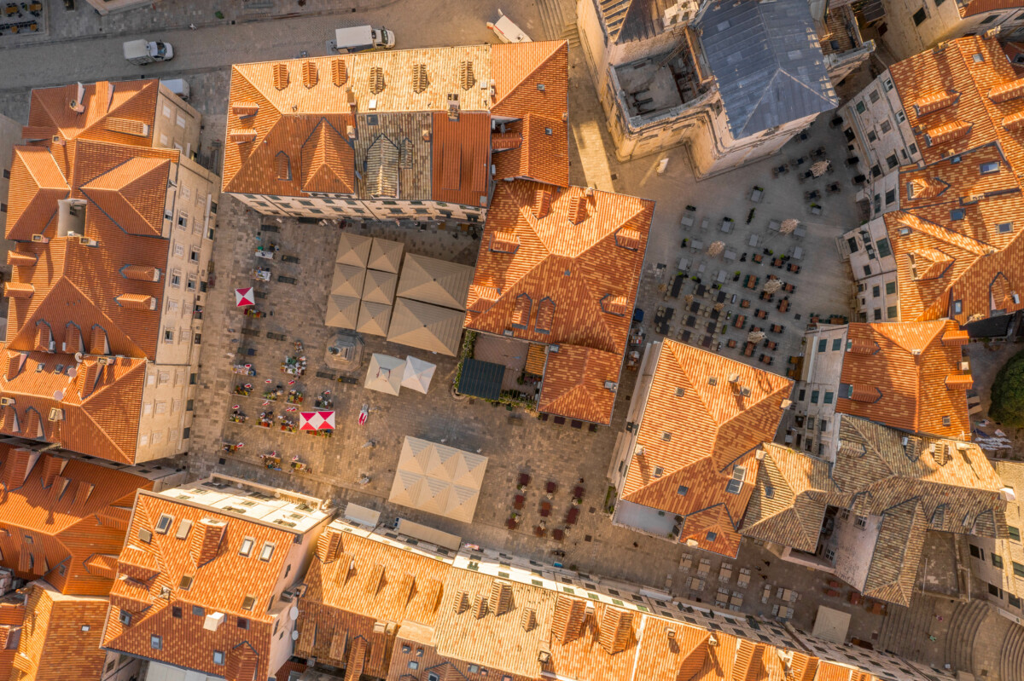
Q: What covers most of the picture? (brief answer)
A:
buildings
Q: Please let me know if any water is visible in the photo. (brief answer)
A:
No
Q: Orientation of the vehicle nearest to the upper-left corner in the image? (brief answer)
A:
from side to side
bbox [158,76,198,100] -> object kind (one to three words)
vehicle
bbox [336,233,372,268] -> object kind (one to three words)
umbrella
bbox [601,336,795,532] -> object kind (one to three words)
house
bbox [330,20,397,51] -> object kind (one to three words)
truck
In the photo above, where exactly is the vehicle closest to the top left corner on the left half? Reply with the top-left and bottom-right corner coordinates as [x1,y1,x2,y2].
[118,38,176,64]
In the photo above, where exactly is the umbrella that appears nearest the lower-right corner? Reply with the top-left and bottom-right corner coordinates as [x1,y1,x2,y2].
[811,605,851,644]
